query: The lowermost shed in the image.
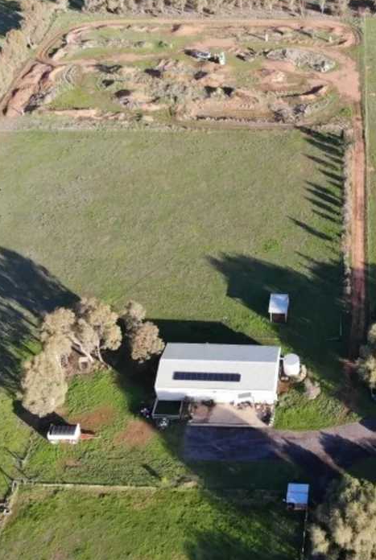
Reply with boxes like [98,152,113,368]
[280,483,310,511]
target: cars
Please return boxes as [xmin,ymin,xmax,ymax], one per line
[197,49,214,58]
[217,53,227,63]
